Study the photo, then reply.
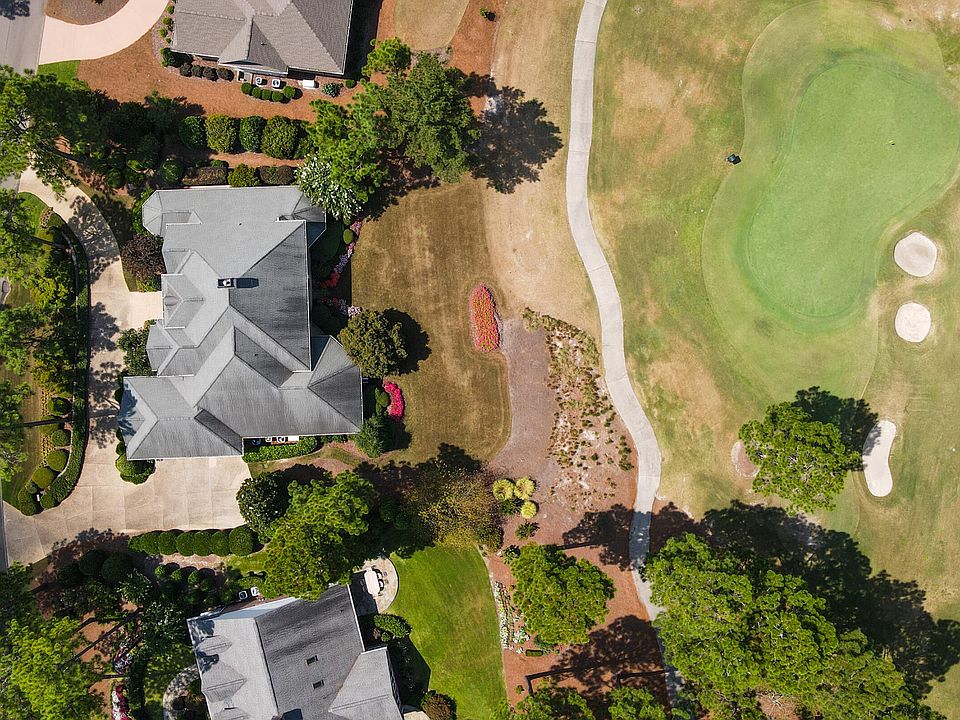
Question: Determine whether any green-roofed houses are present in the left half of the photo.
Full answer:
No, there is no green-roofed house in the left half of the photo.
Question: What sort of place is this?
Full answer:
The area seen from above is a golf course.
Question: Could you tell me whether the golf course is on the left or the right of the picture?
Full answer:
The golf course appears in the right half of the scene.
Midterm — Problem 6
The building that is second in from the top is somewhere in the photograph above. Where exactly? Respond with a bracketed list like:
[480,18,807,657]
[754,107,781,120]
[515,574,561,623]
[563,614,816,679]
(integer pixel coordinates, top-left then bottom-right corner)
[117,186,362,461]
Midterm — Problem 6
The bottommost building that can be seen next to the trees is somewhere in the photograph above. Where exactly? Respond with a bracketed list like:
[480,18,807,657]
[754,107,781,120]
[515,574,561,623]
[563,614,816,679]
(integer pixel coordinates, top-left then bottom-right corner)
[187,579,406,720]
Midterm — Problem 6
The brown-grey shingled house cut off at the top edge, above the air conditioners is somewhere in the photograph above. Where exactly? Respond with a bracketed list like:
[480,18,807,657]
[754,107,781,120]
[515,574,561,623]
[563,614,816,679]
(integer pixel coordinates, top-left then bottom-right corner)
[171,0,355,82]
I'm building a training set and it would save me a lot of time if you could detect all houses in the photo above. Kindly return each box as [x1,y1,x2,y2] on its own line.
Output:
[187,579,406,720]
[171,0,355,82]
[117,186,362,461]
